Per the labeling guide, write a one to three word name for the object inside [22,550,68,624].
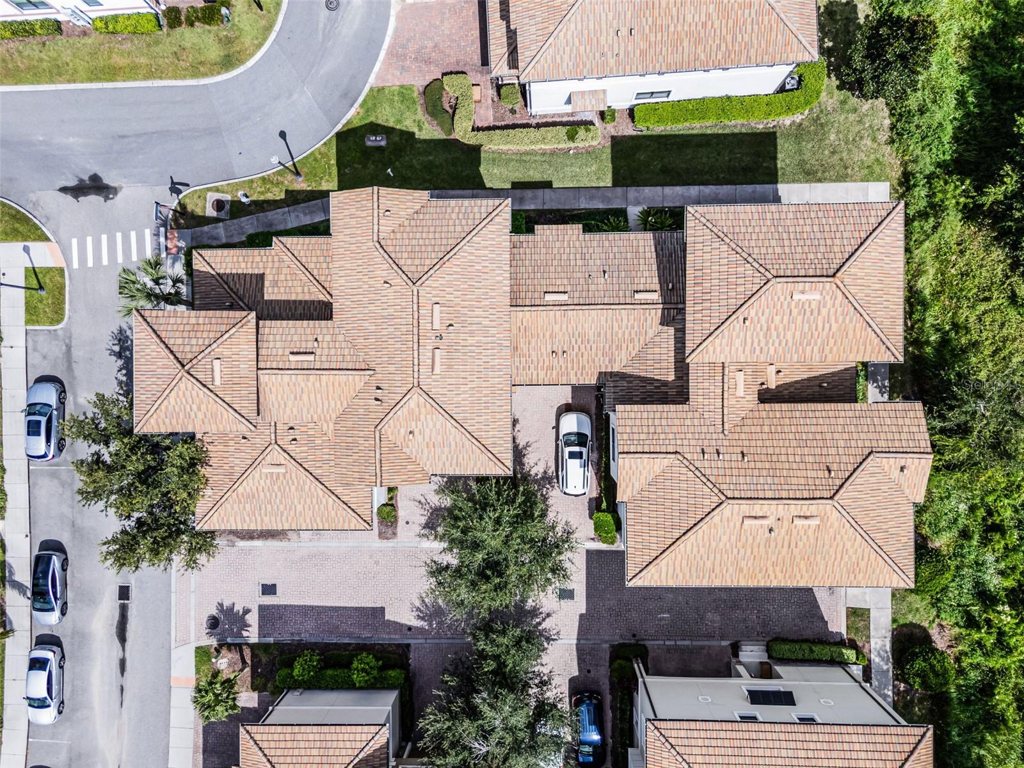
car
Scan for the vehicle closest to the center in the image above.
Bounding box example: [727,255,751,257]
[554,410,595,496]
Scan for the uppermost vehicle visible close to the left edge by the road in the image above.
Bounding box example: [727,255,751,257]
[19,381,66,460]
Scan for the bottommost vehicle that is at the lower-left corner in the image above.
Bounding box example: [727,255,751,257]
[19,644,64,722]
